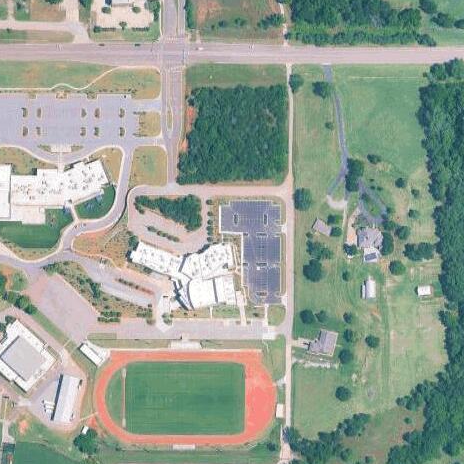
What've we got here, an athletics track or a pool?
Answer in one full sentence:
I can see an athletics track in this picture.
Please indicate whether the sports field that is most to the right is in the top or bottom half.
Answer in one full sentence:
Seen from above, the sports field that is most to the right lies in the bottom half of the view.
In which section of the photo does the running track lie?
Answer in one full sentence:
You can find the running track in the bottom area of the picture.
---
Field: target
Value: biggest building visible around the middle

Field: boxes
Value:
[131,241,237,311]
